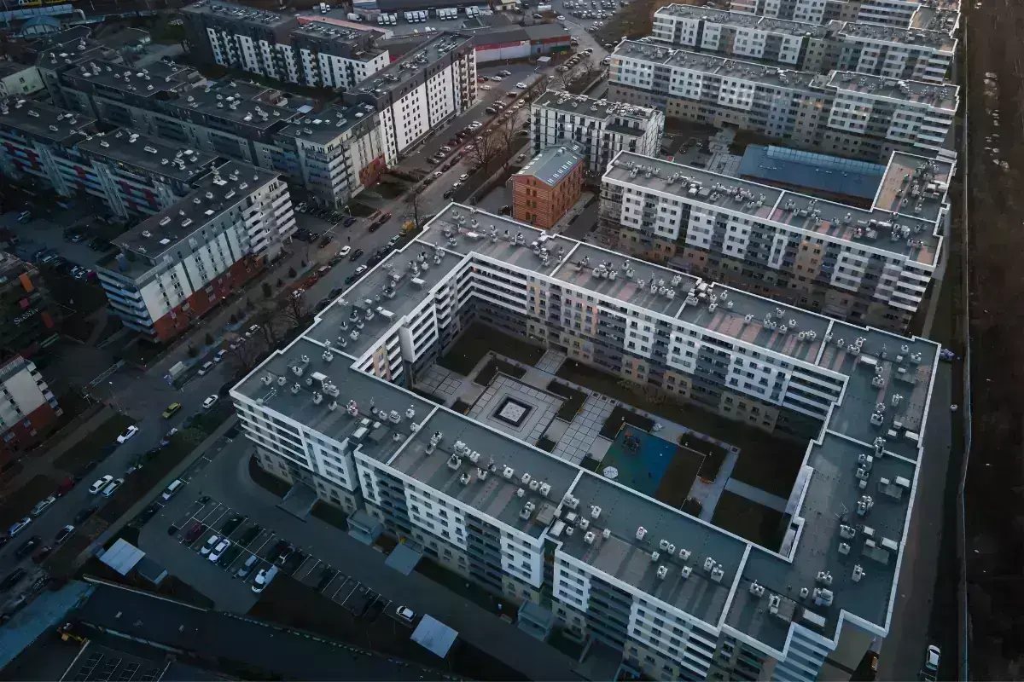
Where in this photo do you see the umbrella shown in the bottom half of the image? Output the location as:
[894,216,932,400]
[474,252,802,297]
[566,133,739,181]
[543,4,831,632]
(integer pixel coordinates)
[601,460,623,478]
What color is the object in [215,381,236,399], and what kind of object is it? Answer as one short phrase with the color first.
black car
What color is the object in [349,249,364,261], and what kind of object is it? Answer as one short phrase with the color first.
black vehicle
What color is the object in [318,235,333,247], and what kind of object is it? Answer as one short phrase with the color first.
black vehicle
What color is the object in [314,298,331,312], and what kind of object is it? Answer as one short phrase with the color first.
black car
